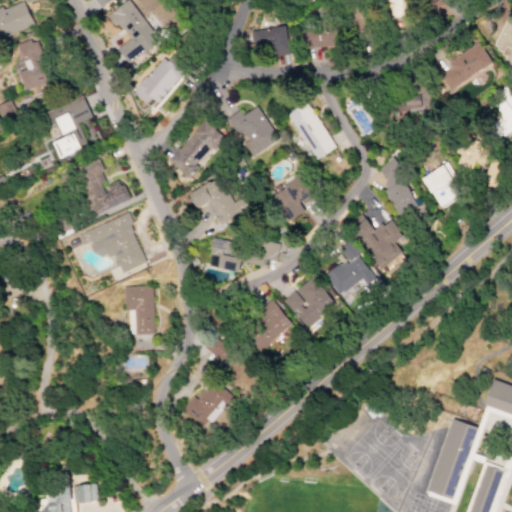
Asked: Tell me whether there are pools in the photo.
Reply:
Yes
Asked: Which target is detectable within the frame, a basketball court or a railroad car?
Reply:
basketball court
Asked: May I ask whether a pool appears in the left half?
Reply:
Yes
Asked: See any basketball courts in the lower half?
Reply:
Yes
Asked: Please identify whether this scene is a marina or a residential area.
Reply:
residential area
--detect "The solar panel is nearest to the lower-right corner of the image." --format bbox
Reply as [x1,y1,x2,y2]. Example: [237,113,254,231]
[482,470,502,512]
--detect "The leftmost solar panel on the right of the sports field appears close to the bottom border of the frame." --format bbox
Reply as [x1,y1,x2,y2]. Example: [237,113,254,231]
[446,428,476,497]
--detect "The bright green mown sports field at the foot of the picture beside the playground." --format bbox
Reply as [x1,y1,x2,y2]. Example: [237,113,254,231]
[247,482,390,512]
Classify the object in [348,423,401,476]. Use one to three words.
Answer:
basketball court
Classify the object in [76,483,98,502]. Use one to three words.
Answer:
building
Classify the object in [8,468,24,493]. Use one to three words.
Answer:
swimming pool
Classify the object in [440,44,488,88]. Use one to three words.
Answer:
house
